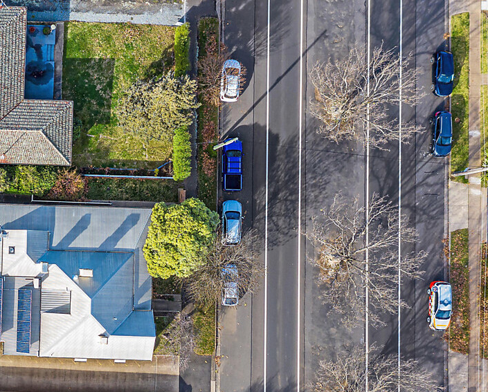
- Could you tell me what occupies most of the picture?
paved ground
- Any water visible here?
No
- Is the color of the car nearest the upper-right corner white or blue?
blue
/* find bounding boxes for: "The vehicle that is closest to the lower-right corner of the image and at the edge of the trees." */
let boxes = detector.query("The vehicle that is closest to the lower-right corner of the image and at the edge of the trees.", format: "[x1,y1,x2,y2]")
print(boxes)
[426,282,453,330]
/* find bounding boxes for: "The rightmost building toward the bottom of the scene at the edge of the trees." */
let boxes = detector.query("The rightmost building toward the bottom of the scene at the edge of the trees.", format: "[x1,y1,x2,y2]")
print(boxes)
[32,248,156,363]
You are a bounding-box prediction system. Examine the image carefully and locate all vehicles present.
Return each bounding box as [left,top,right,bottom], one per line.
[428,110,454,158]
[220,57,242,103]
[426,282,453,330]
[221,200,245,245]
[221,137,245,189]
[430,50,456,97]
